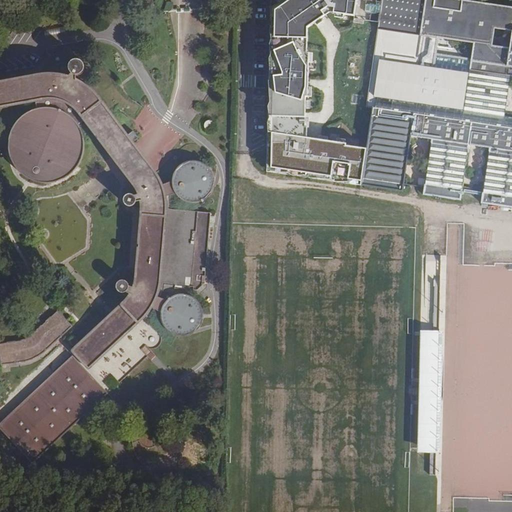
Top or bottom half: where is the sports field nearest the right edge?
bottom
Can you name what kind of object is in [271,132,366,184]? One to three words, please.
building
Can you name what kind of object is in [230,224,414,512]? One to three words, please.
soccer field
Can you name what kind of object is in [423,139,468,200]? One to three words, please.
building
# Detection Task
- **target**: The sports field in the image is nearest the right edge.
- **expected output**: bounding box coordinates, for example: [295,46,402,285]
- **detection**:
[444,224,512,512]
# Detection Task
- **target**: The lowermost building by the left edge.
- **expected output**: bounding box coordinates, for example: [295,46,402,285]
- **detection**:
[0,357,106,458]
